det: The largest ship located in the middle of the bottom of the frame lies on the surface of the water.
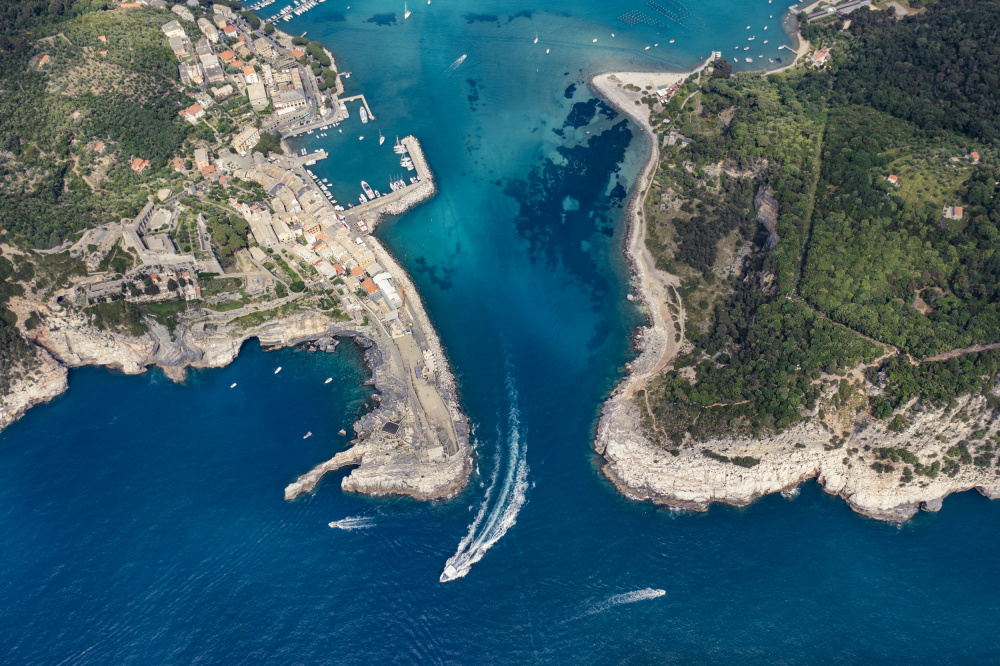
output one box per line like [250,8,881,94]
[439,550,469,582]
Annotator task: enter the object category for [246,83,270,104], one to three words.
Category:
building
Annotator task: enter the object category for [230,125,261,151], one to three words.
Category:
building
